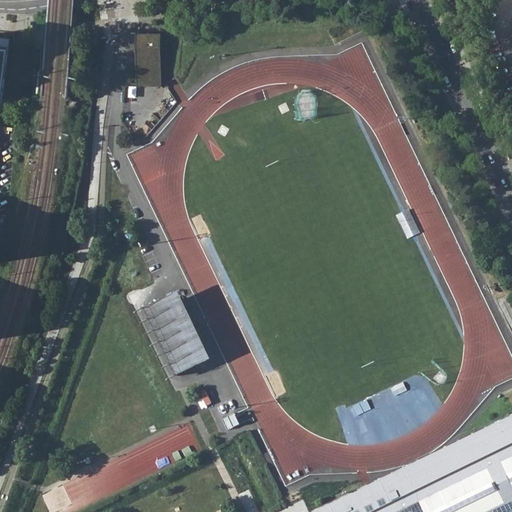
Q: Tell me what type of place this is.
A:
sports ground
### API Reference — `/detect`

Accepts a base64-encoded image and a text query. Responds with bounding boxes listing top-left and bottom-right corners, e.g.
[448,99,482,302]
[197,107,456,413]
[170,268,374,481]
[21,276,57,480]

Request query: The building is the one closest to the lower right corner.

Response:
[330,415,512,512]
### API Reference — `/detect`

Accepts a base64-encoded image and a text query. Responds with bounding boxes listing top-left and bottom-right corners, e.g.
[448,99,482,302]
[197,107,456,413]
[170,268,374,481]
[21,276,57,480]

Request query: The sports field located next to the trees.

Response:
[184,84,464,445]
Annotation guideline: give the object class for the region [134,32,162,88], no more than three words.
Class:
building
